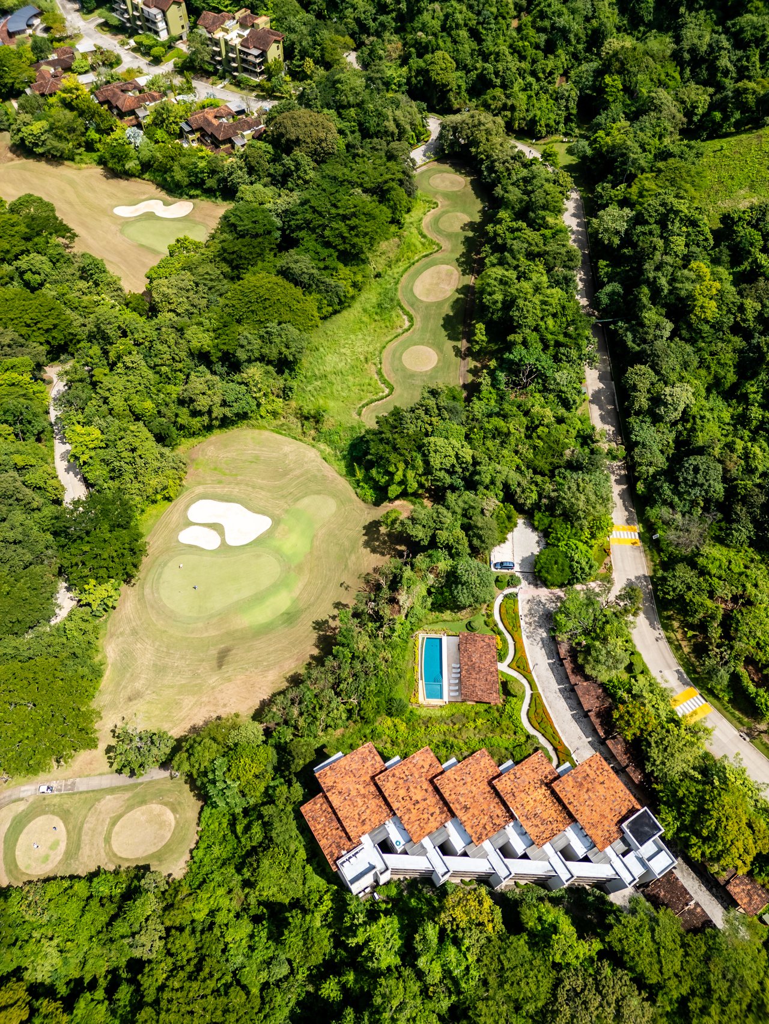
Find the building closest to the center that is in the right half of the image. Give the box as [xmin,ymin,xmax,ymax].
[459,632,500,705]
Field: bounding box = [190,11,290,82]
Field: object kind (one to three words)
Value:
building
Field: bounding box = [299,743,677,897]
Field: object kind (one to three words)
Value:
building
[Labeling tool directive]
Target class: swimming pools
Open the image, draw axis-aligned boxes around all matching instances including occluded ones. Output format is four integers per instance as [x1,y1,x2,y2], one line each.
[418,633,487,706]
